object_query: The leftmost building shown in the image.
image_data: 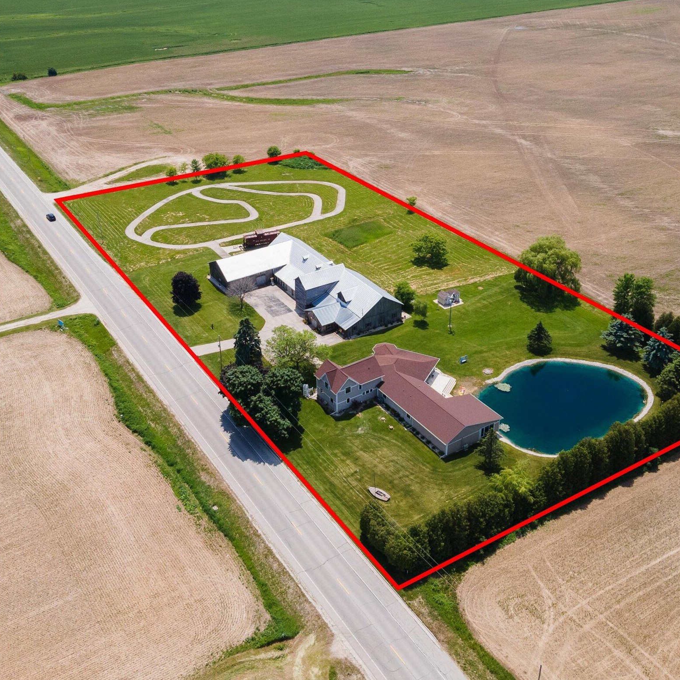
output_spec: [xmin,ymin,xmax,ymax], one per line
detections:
[207,232,403,340]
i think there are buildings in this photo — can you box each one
[437,286,458,305]
[207,232,403,340]
[313,342,503,458]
